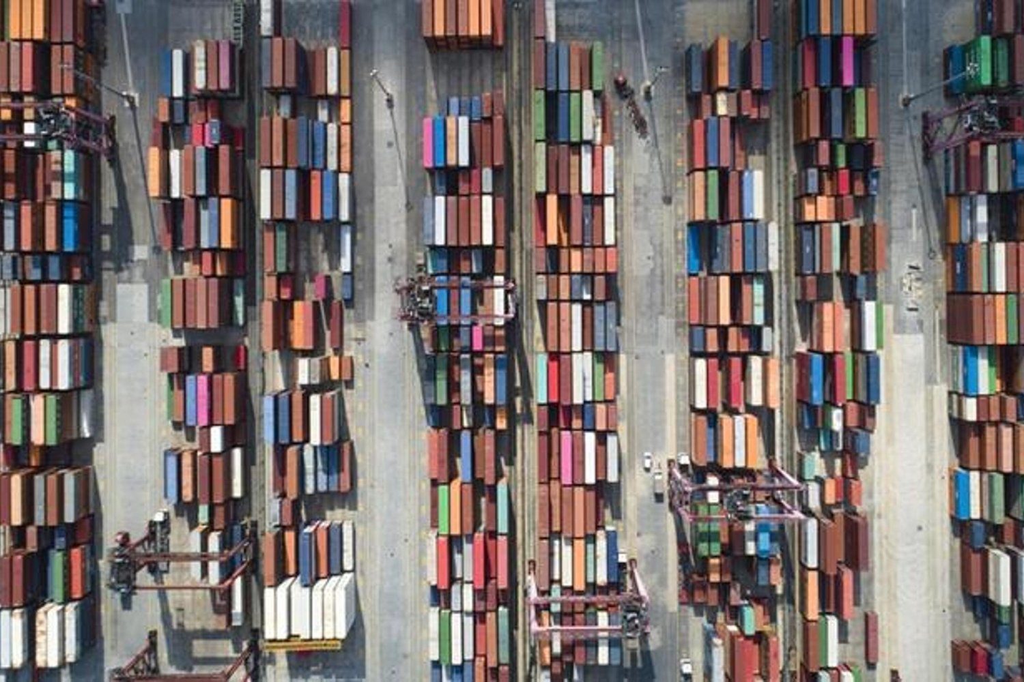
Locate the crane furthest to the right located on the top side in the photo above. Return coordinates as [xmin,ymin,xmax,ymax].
[923,96,1024,164]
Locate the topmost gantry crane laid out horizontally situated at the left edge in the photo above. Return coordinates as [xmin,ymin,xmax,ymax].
[0,99,115,166]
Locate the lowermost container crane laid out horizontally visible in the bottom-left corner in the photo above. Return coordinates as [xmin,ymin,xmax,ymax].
[102,625,257,682]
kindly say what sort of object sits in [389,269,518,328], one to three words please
container crane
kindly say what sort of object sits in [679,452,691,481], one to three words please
vehicle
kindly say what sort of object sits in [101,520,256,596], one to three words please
container crane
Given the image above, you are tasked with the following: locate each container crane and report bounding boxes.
[102,625,257,682]
[665,453,810,526]
[527,553,655,638]
[101,520,256,596]
[923,96,1024,164]
[0,99,115,166]
[389,269,518,328]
